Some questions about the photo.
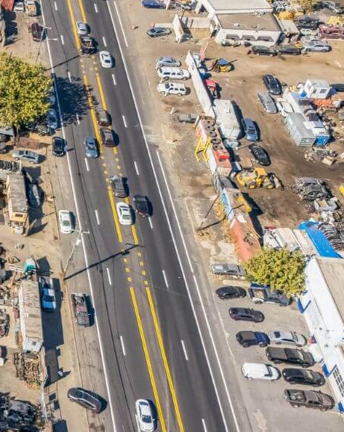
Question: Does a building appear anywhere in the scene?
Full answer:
Yes, a building is visible in the scene.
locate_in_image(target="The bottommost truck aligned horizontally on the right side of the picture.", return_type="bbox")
[282,388,336,412]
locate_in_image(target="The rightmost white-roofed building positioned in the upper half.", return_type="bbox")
[302,79,331,105]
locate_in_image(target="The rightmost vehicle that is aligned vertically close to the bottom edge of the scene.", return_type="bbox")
[135,396,157,432]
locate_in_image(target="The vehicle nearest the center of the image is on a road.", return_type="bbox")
[134,194,152,218]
